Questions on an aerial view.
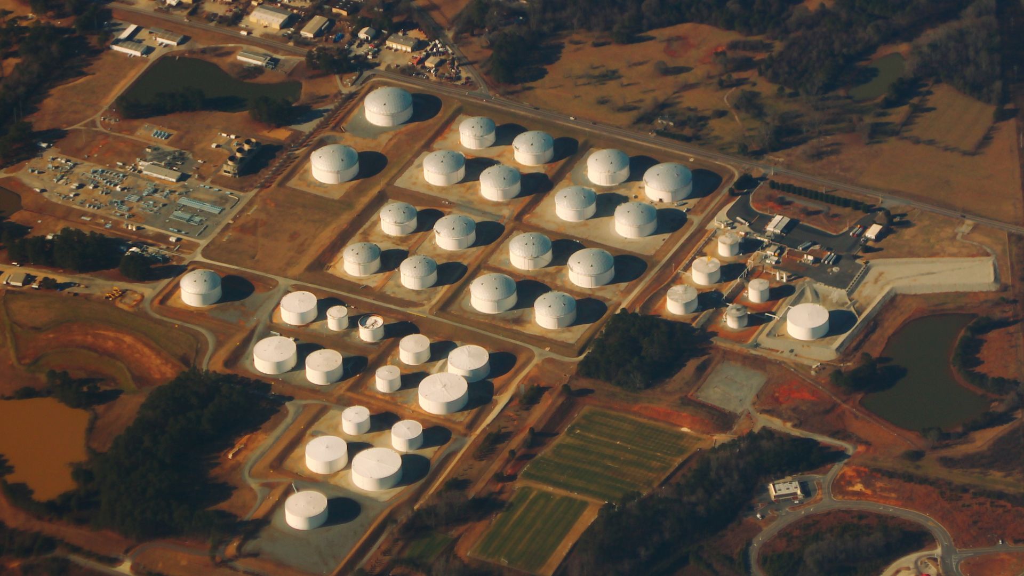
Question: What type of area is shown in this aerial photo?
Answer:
industrial area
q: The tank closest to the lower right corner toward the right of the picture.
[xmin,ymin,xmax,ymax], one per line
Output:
[785,302,831,341]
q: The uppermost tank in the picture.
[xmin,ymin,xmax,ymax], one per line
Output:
[363,88,414,127]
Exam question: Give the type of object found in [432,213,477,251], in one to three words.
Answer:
storage tank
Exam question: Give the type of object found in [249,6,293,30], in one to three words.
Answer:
building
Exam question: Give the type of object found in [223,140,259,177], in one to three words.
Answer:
cooling tower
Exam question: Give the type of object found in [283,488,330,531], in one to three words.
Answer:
storage tank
